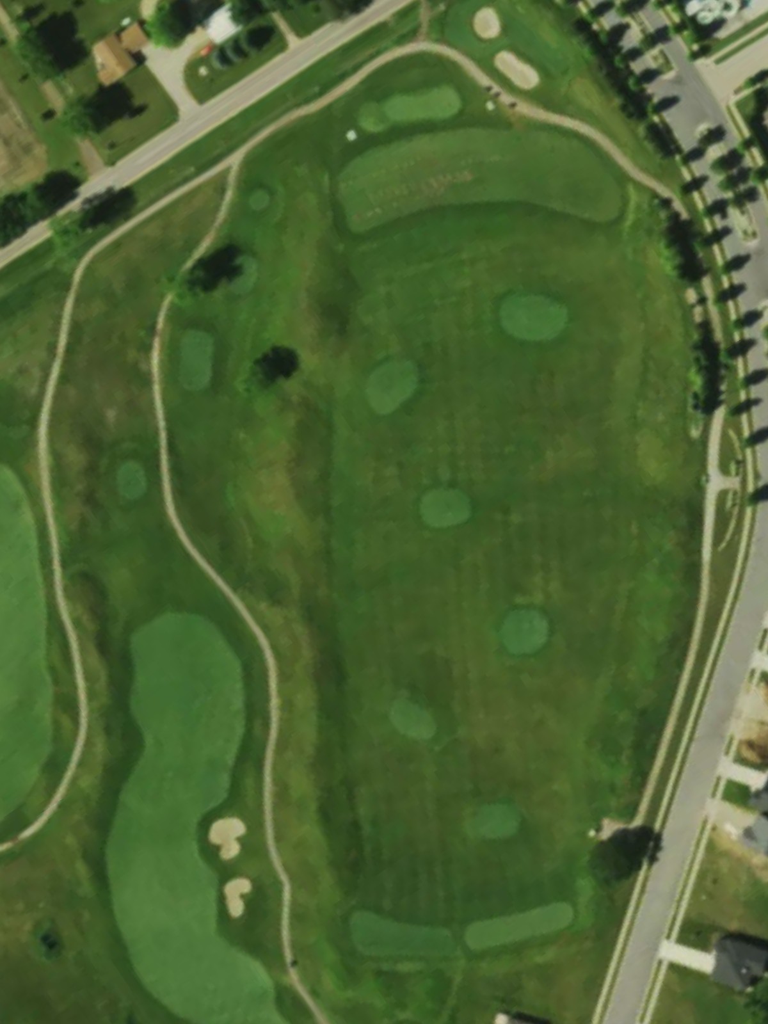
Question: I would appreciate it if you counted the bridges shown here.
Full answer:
There are no bridges in this view.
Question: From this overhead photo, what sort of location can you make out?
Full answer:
The area seen from above is a golf course.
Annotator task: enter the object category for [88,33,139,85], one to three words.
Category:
house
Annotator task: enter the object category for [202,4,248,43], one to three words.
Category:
house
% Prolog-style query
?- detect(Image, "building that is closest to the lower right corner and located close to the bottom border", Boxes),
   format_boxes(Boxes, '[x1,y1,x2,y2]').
[713,937,768,988]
